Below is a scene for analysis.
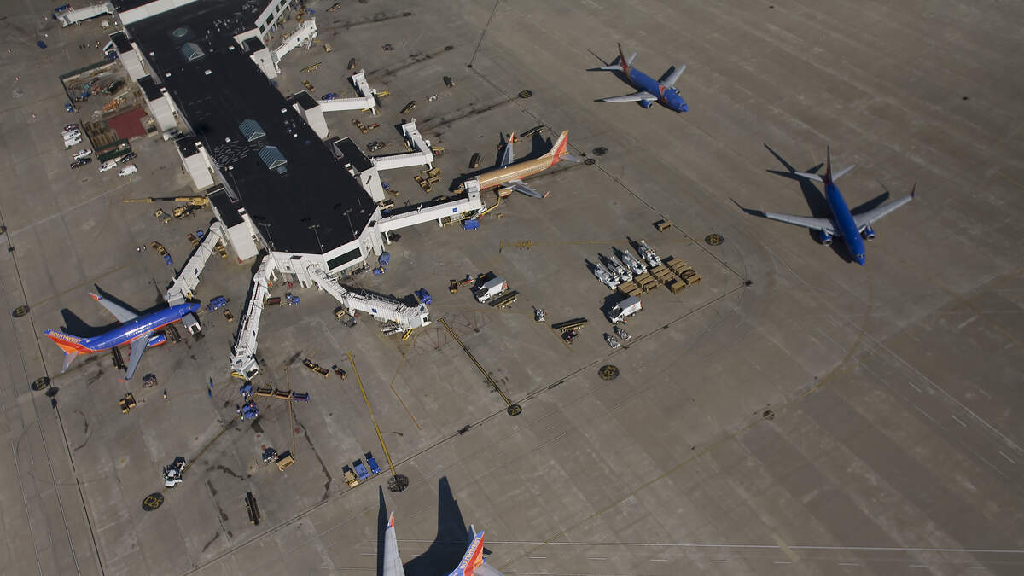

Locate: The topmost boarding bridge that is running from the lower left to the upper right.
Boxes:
[269,23,319,74]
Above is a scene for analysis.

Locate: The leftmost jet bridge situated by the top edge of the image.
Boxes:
[56,7,118,34]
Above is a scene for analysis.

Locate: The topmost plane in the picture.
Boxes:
[601,43,688,114]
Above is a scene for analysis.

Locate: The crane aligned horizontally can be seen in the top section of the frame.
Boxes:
[124,194,212,213]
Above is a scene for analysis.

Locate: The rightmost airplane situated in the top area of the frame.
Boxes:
[760,147,916,264]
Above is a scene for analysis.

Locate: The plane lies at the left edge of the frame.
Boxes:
[46,291,200,381]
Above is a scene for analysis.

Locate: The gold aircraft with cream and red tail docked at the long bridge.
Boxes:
[454,131,579,199]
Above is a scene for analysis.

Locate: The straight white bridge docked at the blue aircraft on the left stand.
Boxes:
[175,221,228,303]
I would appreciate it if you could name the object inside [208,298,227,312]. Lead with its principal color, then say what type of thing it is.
blue work vehicle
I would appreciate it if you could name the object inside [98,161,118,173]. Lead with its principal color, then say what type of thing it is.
white vehicle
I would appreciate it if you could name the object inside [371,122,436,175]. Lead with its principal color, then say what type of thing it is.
white jet bridge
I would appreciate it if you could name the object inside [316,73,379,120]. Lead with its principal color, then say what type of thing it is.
white jet bridge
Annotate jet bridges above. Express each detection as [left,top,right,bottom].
[303,263,429,337]
[316,73,379,120]
[56,7,118,34]
[175,221,228,303]
[371,122,436,175]
[269,23,319,74]
[377,181,484,244]
[237,253,277,377]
